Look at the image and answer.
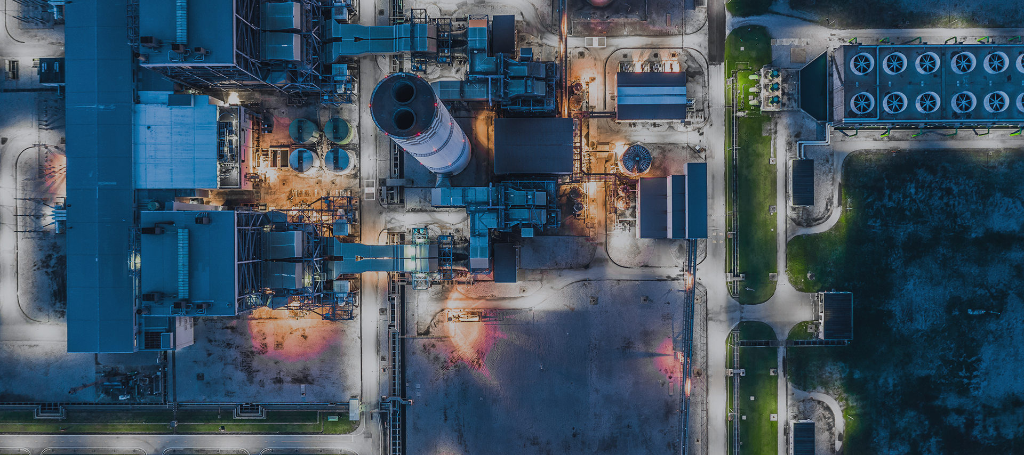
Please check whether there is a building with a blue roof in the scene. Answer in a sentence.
Yes, the frame does contain a building with a blue roof.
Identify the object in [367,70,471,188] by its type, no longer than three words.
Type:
chimney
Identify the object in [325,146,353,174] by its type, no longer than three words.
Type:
water tank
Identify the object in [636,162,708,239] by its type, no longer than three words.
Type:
building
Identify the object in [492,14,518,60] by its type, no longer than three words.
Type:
shed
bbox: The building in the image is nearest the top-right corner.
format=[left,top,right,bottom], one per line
[758,68,801,112]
